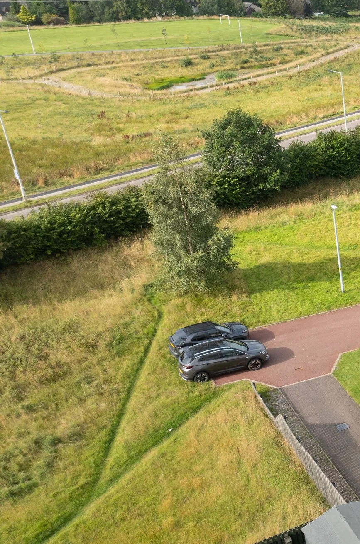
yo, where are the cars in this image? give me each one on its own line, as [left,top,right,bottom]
[177,337,270,385]
[162,320,251,361]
